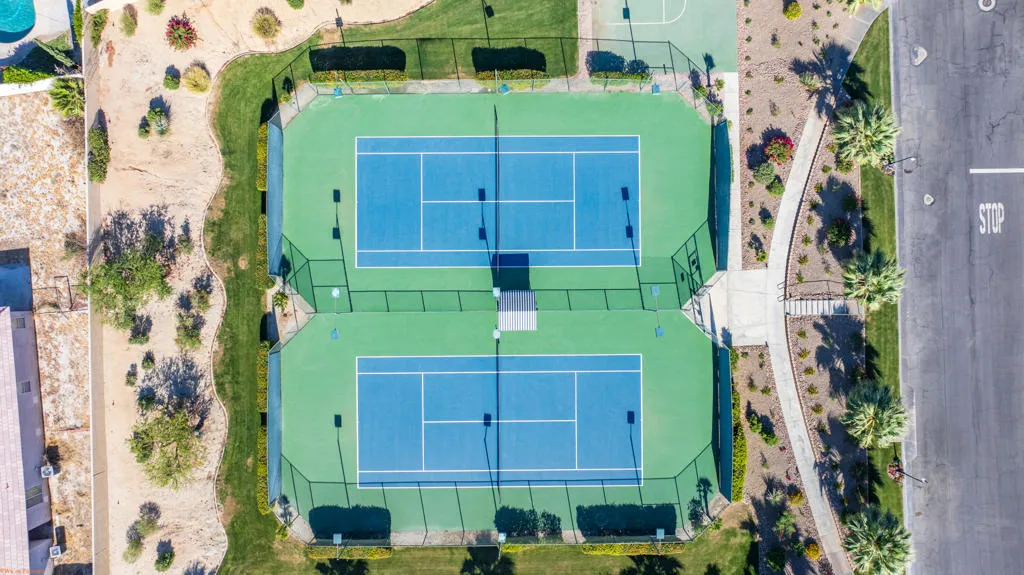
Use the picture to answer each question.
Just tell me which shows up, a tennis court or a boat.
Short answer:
tennis court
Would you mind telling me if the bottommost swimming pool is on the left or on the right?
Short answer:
left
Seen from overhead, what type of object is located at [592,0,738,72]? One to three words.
basketball court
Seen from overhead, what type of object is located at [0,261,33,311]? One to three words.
swimming pool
